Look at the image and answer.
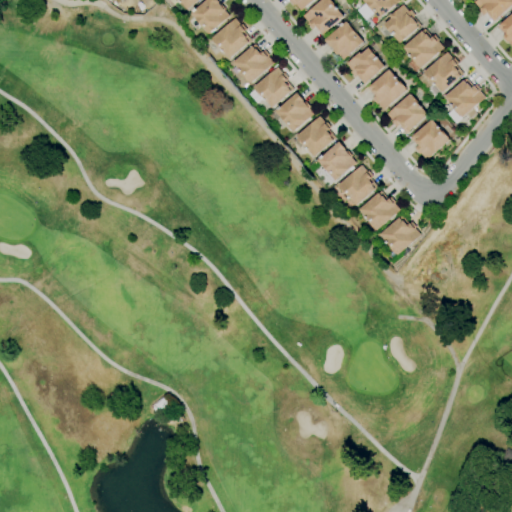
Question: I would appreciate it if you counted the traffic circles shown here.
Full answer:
The count of traffic circles is 0.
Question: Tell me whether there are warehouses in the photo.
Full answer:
No, there is no warehouse in the image.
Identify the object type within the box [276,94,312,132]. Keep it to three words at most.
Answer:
house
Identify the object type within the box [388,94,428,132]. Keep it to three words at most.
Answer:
house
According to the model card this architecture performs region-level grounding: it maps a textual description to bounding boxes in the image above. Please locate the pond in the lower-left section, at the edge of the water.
[92,421,180,512]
